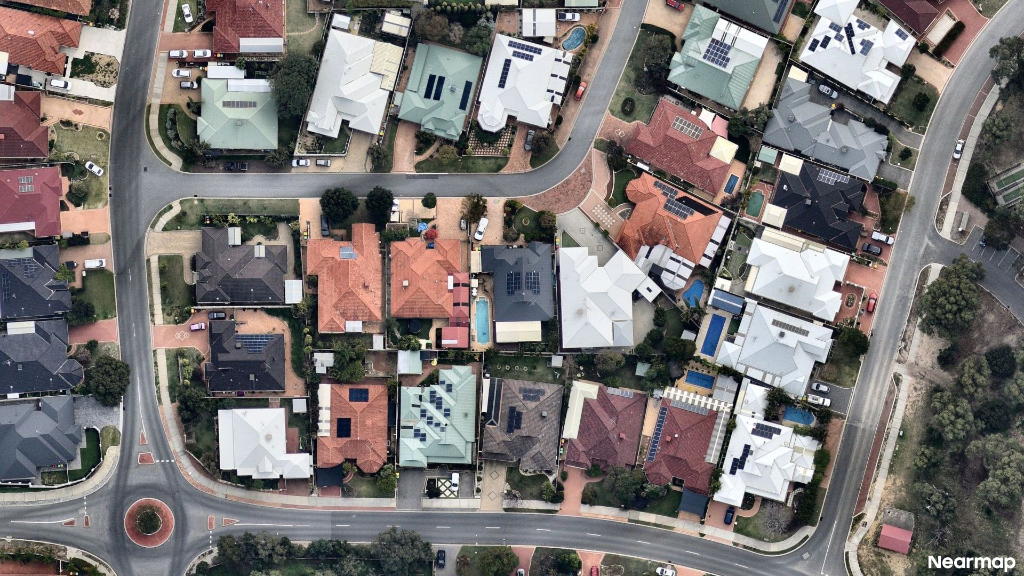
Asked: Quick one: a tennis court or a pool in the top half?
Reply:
pool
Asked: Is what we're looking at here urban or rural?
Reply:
urban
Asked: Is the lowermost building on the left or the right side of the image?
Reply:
right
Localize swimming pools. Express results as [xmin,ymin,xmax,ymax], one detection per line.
[724,174,740,196]
[475,295,491,345]
[744,188,766,219]
[782,405,815,426]
[681,278,706,309]
[683,369,716,391]
[700,313,727,358]
[561,27,586,52]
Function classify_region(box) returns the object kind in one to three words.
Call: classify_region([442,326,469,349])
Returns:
shed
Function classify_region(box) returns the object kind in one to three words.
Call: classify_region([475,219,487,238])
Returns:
vehicle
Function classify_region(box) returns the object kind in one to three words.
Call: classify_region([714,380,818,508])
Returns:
house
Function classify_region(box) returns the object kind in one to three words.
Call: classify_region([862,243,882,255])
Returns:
vehicle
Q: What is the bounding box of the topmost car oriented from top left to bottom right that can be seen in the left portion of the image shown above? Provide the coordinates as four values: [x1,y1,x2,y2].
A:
[85,161,103,176]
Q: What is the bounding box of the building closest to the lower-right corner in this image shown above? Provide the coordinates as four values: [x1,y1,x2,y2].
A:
[877,523,914,555]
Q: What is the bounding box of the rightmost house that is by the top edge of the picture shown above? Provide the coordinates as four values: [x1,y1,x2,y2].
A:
[876,0,939,36]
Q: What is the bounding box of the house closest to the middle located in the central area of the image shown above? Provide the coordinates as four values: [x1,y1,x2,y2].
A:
[471,242,554,342]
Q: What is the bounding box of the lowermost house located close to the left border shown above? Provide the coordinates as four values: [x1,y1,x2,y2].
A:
[0,396,82,481]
